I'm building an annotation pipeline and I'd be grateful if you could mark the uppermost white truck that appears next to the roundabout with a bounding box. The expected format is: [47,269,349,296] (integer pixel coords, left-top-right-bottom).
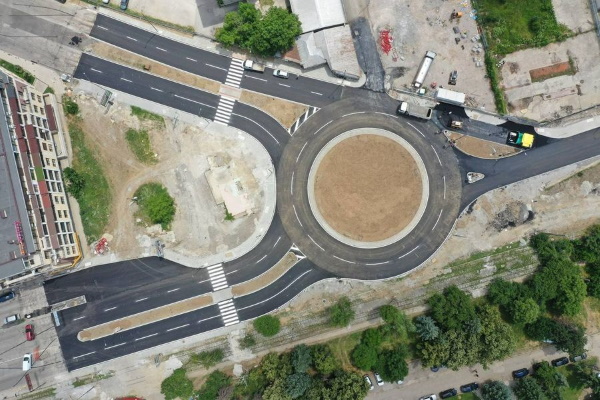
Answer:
[411,49,438,91]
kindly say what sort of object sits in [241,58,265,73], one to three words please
vehicle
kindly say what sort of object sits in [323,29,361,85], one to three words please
building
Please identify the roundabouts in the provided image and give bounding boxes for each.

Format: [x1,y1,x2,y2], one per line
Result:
[277,96,461,280]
